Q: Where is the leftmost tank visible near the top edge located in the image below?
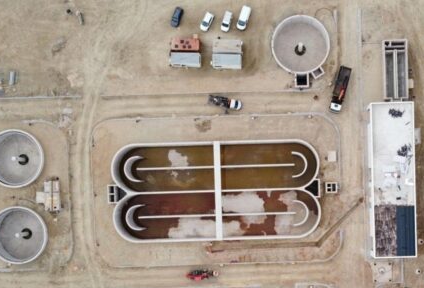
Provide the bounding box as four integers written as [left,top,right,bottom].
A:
[272,14,330,74]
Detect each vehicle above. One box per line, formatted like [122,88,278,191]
[184,268,212,280]
[220,9,233,34]
[236,4,251,33]
[329,65,352,115]
[170,6,185,28]
[208,94,245,115]
[200,11,215,32]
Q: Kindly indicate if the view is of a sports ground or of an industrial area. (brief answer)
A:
industrial area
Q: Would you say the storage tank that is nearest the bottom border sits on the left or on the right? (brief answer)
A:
left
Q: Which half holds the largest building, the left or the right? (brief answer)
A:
right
